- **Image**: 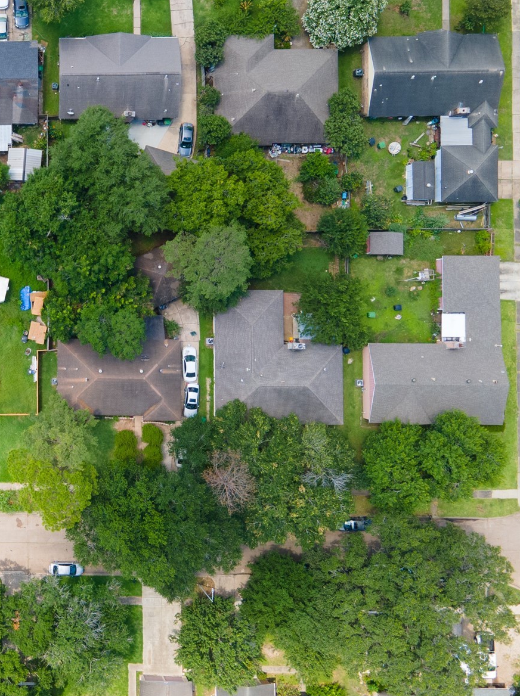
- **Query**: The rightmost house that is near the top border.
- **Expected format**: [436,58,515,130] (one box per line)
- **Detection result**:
[363,31,515,203]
